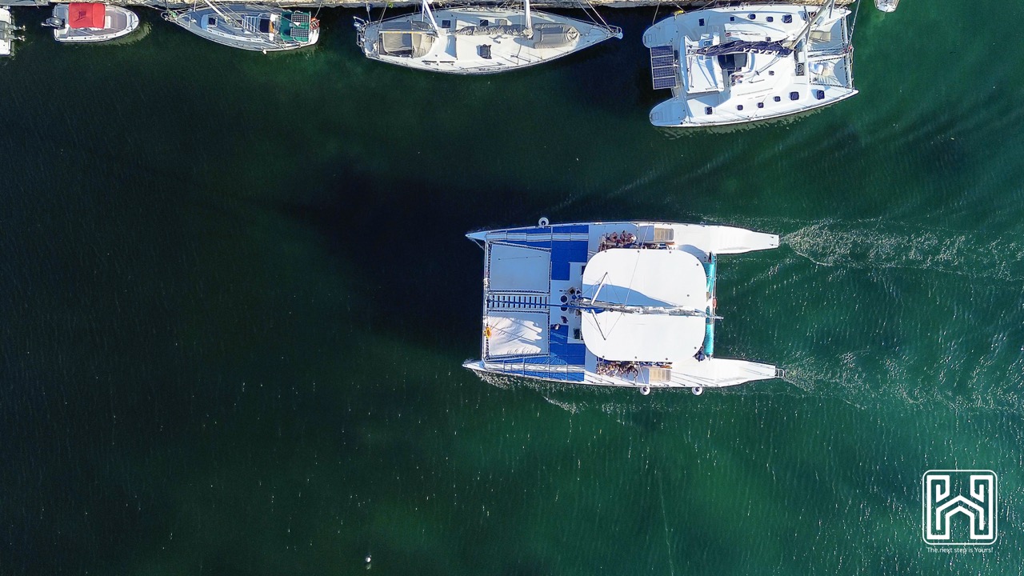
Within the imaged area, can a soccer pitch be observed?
No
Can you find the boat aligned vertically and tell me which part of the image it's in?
top left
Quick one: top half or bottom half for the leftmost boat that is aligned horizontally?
top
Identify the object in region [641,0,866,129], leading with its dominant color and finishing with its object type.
white boat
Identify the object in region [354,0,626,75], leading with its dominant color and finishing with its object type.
white boat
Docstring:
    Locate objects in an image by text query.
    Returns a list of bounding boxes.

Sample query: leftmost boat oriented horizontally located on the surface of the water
[40,3,143,43]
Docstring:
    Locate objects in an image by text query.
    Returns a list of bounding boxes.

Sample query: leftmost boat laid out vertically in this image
[0,6,26,60]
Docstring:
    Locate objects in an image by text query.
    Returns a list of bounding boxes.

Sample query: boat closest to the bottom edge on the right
[464,222,785,389]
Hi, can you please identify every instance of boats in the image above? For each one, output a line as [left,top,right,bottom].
[641,0,866,129]
[162,0,321,52]
[0,6,26,60]
[869,0,898,12]
[40,3,143,43]
[464,222,785,389]
[354,0,626,75]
